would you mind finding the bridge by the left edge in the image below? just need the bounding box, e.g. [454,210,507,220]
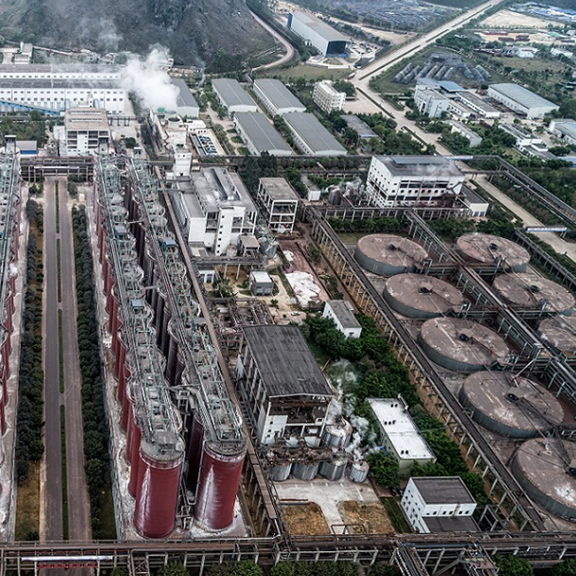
[22,150,94,172]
